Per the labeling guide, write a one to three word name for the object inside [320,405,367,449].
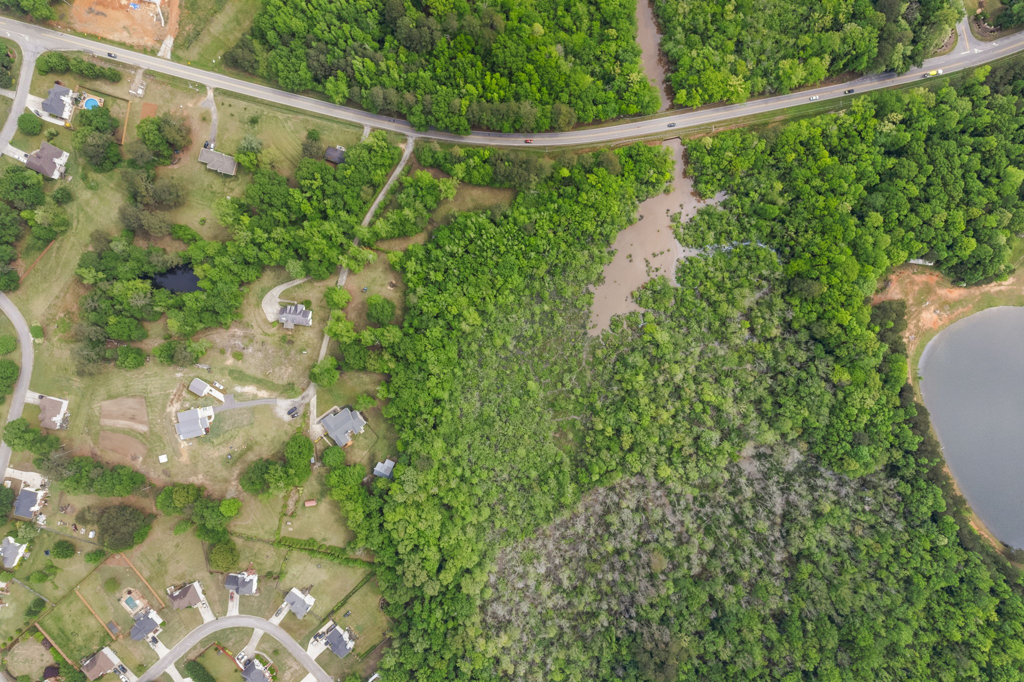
house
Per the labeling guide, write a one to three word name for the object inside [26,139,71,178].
house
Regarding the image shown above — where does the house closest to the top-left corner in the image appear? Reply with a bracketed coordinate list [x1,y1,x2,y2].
[39,83,82,120]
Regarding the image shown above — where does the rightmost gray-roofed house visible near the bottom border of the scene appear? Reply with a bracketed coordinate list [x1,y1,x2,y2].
[324,623,356,660]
